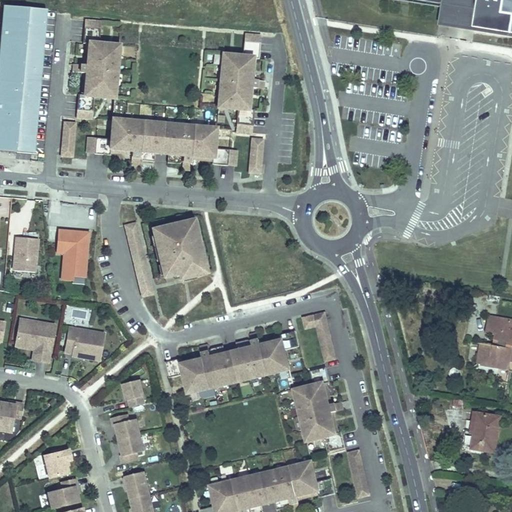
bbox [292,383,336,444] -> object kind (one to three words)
house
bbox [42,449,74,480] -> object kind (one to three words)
house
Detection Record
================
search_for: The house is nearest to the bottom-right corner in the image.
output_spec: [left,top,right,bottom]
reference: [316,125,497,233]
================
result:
[470,410,502,454]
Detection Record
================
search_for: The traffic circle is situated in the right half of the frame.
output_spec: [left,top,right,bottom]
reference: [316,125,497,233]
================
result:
[282,182,370,258]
